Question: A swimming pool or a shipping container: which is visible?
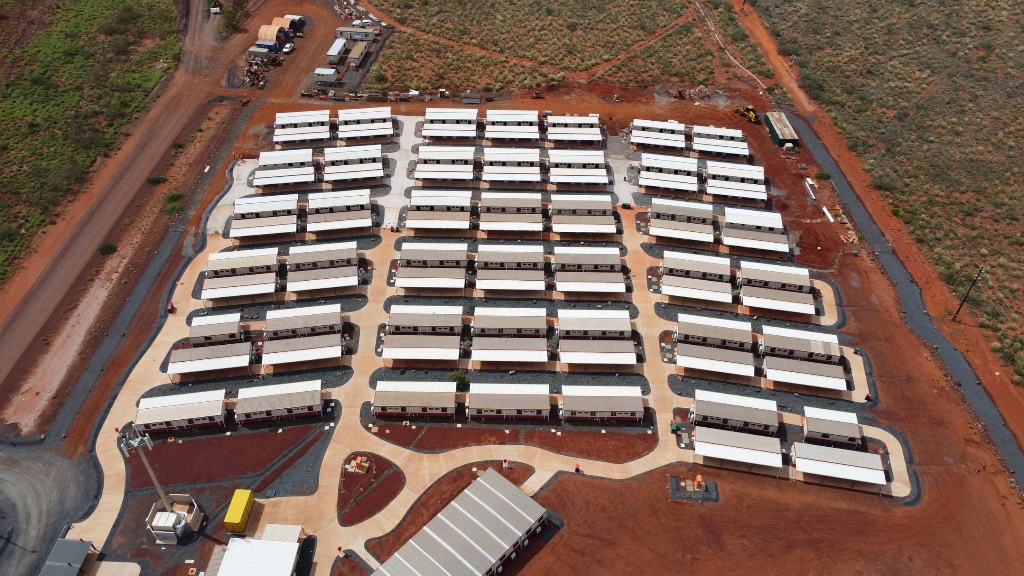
shipping container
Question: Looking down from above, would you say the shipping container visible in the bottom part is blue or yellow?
yellow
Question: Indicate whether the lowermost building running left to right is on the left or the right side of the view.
left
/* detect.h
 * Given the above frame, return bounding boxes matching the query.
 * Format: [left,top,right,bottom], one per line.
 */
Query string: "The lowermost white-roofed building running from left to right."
[212,538,301,576]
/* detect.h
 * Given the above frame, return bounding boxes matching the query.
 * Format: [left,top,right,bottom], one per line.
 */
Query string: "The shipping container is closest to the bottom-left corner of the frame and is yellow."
[224,489,257,534]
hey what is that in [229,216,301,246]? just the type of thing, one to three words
building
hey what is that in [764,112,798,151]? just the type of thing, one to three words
shed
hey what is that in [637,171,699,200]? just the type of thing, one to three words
building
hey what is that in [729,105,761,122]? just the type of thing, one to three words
work vehicle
